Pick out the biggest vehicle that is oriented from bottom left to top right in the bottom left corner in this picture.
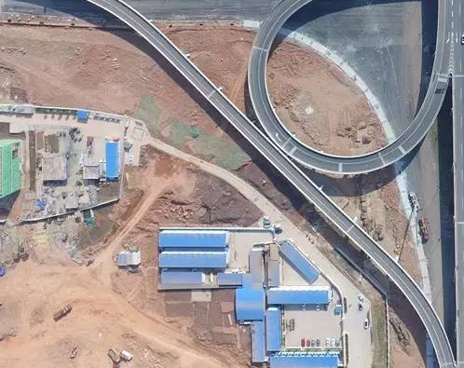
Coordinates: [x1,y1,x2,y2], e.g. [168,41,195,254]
[50,307,70,323]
